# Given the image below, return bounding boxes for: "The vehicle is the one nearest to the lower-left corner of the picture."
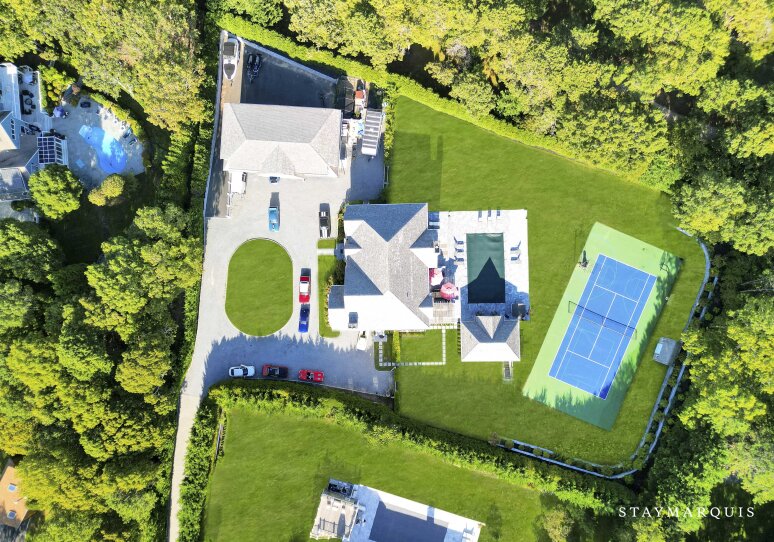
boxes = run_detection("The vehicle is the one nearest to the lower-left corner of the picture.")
[228,363,255,378]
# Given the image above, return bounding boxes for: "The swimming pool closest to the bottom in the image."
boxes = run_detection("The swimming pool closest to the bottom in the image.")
[364,498,450,542]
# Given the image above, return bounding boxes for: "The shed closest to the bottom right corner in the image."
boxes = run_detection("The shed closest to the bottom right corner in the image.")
[649,336,677,365]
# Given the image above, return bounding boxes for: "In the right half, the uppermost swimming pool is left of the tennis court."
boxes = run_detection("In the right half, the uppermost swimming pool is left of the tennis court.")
[466,232,506,305]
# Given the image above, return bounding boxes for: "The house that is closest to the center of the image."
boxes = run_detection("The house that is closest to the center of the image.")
[328,203,440,343]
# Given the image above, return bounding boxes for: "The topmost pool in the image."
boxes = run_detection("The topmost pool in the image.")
[78,123,128,175]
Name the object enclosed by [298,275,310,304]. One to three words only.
vehicle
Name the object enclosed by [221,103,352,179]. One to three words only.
building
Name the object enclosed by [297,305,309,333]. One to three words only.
vehicle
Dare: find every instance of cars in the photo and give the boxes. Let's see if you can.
[318,210,330,239]
[298,275,310,304]
[228,363,255,378]
[298,371,325,383]
[268,206,279,233]
[261,365,289,378]
[297,305,309,333]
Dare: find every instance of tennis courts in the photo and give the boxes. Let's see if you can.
[522,222,682,431]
